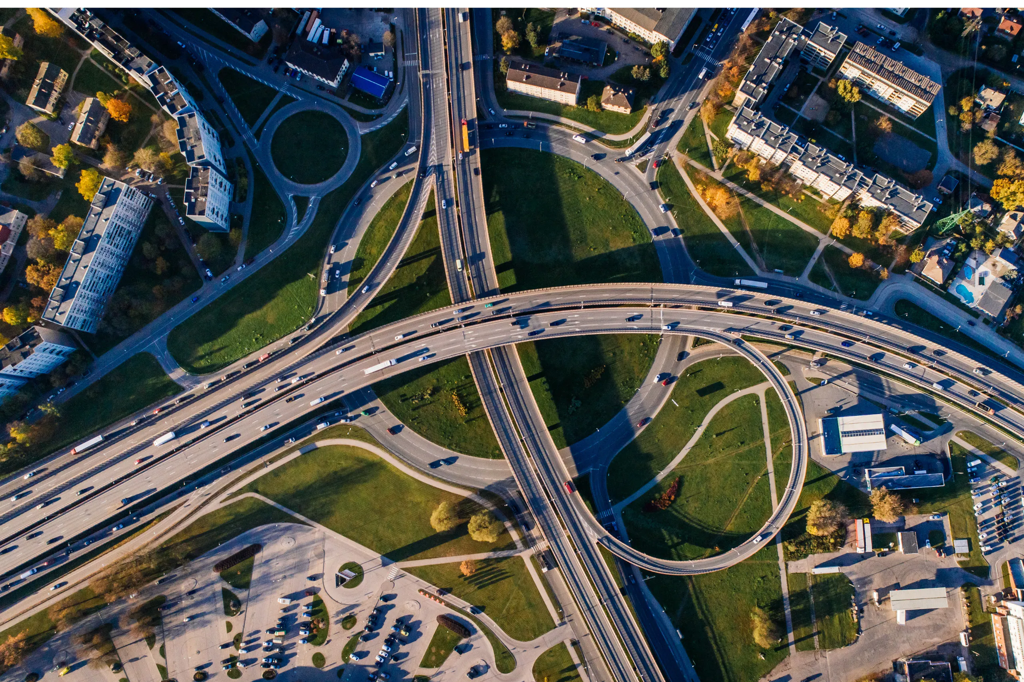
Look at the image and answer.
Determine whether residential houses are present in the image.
Yes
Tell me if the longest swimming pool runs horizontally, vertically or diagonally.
diagonally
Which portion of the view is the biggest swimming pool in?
right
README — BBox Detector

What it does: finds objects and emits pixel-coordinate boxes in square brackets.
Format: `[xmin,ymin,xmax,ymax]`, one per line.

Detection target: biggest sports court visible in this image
[873,132,931,172]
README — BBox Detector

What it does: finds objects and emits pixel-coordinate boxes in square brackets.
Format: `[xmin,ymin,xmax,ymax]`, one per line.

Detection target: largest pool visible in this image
[955,283,975,304]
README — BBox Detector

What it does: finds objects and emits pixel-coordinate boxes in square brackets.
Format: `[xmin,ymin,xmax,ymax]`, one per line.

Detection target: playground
[805,94,830,122]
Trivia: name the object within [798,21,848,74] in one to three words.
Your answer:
building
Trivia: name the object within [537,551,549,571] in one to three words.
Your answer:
vehicle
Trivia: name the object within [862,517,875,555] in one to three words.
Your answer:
vehicle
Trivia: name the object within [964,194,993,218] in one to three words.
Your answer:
shed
